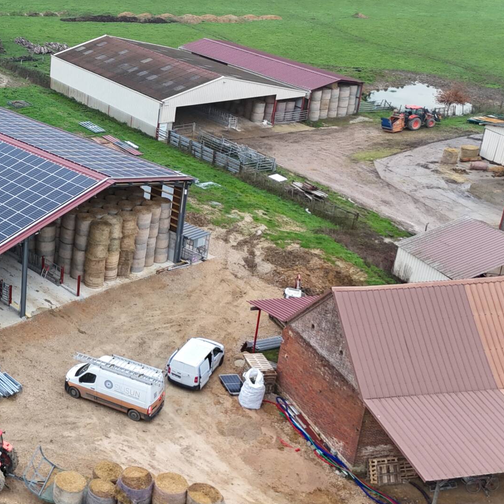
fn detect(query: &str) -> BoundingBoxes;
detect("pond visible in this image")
[371,83,471,117]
